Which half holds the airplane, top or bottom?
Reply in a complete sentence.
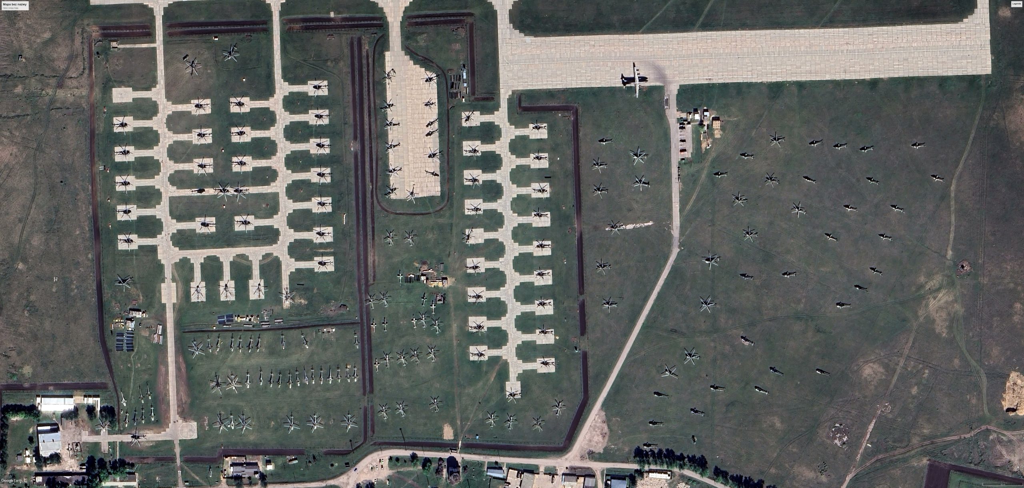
Seen from above, the airplane lies in the top half of the view.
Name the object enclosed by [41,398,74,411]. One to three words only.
hangar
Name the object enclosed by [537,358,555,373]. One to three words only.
helipad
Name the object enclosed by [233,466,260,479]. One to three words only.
house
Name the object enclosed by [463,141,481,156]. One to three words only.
helipad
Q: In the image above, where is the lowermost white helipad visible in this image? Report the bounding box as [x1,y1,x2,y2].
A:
[178,422,197,440]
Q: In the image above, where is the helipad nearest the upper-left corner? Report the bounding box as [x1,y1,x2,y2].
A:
[112,87,132,103]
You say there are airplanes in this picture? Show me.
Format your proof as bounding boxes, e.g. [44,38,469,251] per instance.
[621,67,648,97]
